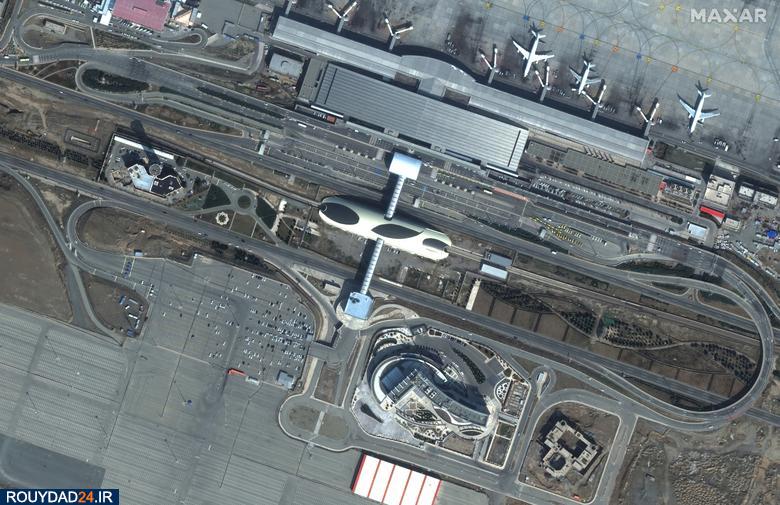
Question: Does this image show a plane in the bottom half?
No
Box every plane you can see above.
[570,61,603,94]
[679,92,720,133]
[512,31,555,76]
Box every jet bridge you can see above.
[328,1,358,32]
[480,49,498,83]
[581,85,607,120]
[286,0,305,17]
[535,66,550,101]
[385,18,414,50]
[636,102,659,136]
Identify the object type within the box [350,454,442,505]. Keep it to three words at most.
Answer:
building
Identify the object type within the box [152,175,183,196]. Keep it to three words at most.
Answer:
building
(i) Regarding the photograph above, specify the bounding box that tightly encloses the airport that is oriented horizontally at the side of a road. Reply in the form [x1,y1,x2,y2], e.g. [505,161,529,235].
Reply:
[262,0,780,178]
